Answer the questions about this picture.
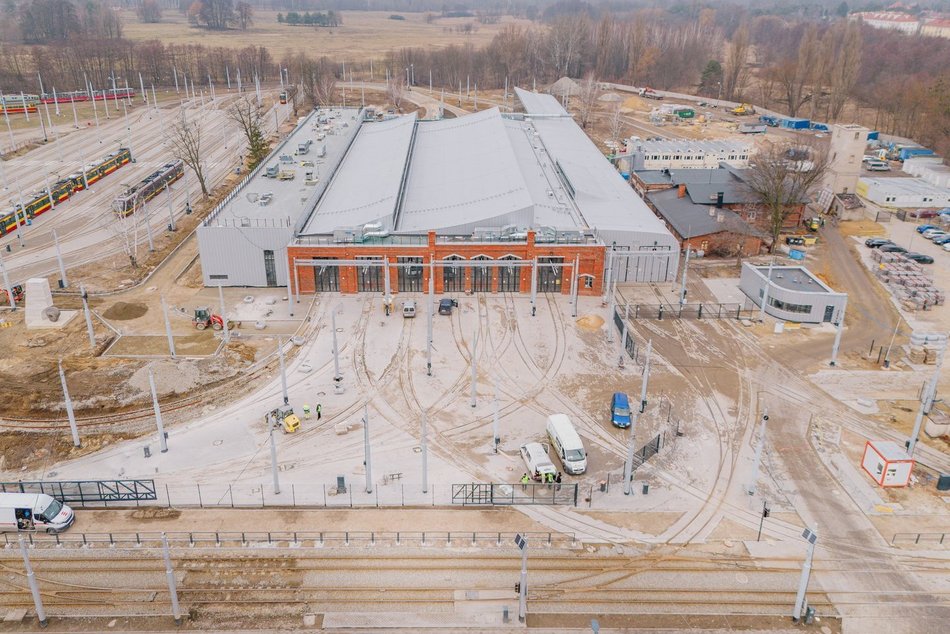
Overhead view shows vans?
Yes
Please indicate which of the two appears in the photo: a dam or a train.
train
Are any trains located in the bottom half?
No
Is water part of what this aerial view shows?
No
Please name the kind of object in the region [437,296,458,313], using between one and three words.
car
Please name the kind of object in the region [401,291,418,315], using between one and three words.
vehicle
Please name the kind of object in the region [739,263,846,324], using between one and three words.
building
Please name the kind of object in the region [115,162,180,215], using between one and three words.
train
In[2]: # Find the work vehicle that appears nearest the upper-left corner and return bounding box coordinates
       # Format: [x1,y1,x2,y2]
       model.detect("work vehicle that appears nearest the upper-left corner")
[0,278,33,303]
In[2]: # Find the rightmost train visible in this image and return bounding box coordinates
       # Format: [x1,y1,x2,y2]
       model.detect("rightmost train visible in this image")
[279,83,296,102]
